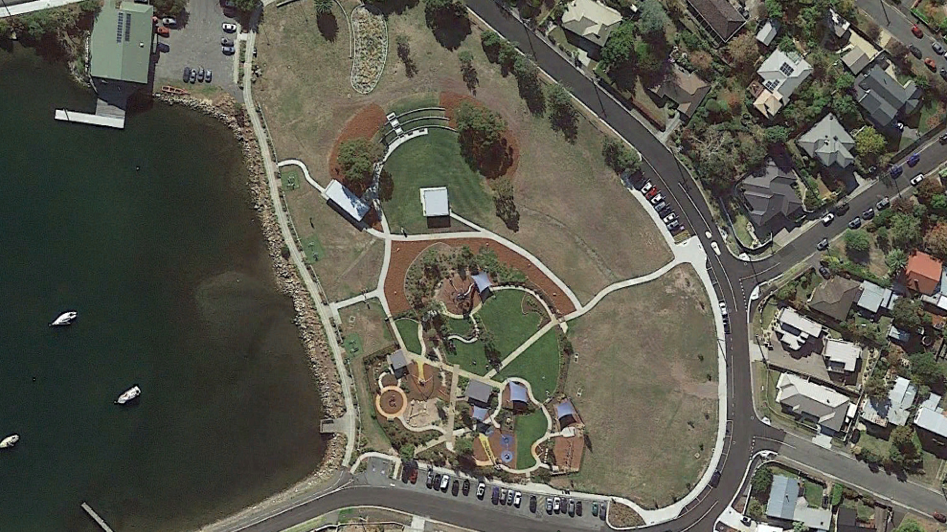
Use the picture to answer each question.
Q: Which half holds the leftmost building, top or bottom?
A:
top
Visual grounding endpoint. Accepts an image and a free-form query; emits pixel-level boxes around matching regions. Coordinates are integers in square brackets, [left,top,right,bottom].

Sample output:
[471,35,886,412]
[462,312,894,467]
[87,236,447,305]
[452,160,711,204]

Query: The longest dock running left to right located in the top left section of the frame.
[55,108,125,129]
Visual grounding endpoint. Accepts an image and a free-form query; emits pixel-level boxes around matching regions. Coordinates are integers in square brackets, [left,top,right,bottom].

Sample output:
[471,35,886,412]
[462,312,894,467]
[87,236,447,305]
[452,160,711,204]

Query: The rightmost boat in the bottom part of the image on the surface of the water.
[116,383,140,402]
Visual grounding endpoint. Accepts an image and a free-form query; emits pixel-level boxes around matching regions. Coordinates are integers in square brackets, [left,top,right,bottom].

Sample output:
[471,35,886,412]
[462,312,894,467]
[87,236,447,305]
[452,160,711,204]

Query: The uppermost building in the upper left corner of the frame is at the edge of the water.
[91,0,154,81]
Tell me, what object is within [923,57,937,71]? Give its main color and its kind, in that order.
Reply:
red vehicle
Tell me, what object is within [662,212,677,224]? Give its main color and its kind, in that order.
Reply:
white vehicle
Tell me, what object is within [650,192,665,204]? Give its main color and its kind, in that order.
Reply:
white vehicle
